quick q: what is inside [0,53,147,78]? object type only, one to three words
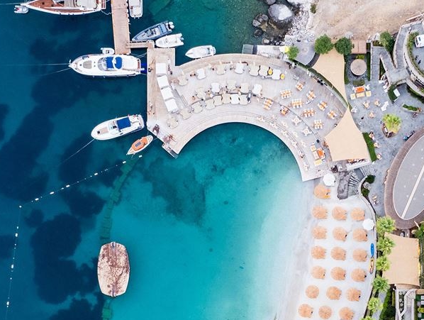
boat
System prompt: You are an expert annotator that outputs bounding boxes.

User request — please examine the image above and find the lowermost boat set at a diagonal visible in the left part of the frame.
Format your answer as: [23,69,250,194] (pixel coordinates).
[128,137,153,154]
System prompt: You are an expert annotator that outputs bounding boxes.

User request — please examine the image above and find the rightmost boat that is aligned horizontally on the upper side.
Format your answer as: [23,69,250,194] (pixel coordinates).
[186,44,216,58]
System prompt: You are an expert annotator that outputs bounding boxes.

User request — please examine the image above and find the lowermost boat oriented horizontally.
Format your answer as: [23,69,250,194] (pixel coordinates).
[85,114,147,143]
